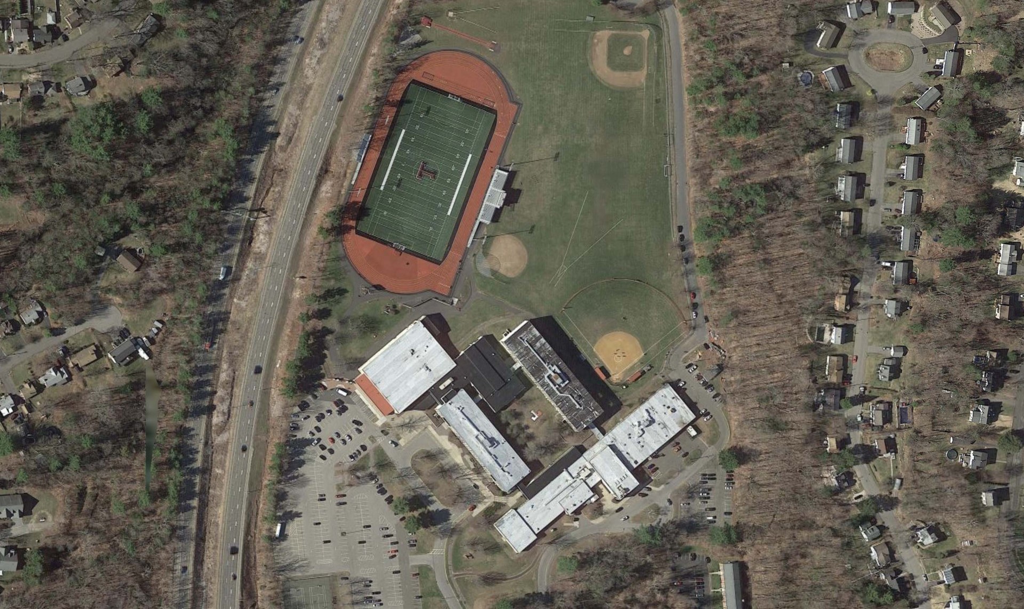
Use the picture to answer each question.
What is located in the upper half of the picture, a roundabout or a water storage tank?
roundabout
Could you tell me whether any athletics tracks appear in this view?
Yes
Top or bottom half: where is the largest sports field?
top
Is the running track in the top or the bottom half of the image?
top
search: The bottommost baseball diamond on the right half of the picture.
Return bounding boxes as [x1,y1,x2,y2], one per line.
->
[558,278,685,382]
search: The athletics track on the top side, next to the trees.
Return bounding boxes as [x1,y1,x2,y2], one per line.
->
[336,47,524,301]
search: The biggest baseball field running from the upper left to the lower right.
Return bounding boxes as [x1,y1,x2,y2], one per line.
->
[555,20,655,126]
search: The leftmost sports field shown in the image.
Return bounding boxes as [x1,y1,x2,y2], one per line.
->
[354,80,497,264]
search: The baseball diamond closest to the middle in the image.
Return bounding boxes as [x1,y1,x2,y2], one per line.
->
[476,236,527,278]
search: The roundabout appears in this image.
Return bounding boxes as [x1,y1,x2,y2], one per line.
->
[848,30,928,95]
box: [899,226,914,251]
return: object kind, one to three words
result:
house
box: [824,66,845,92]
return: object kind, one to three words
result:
house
